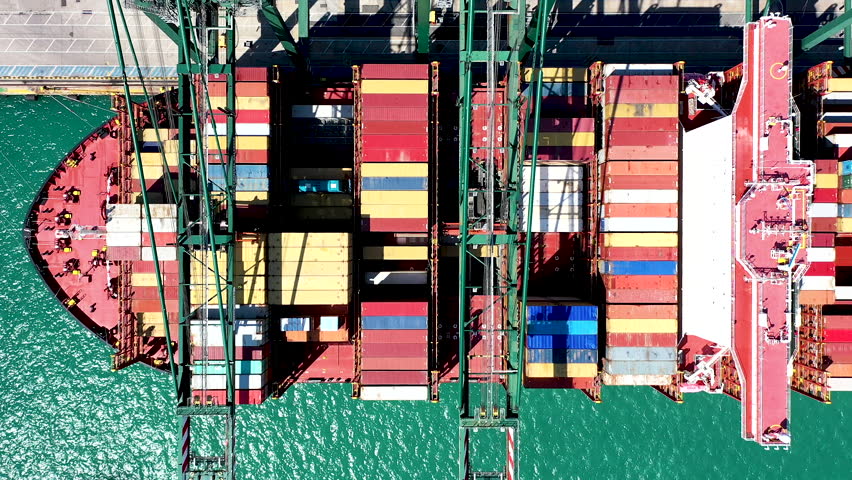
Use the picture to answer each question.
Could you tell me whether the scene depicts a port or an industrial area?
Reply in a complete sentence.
The picture captures a port.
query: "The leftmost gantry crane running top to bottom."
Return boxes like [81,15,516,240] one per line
[121,0,310,480]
